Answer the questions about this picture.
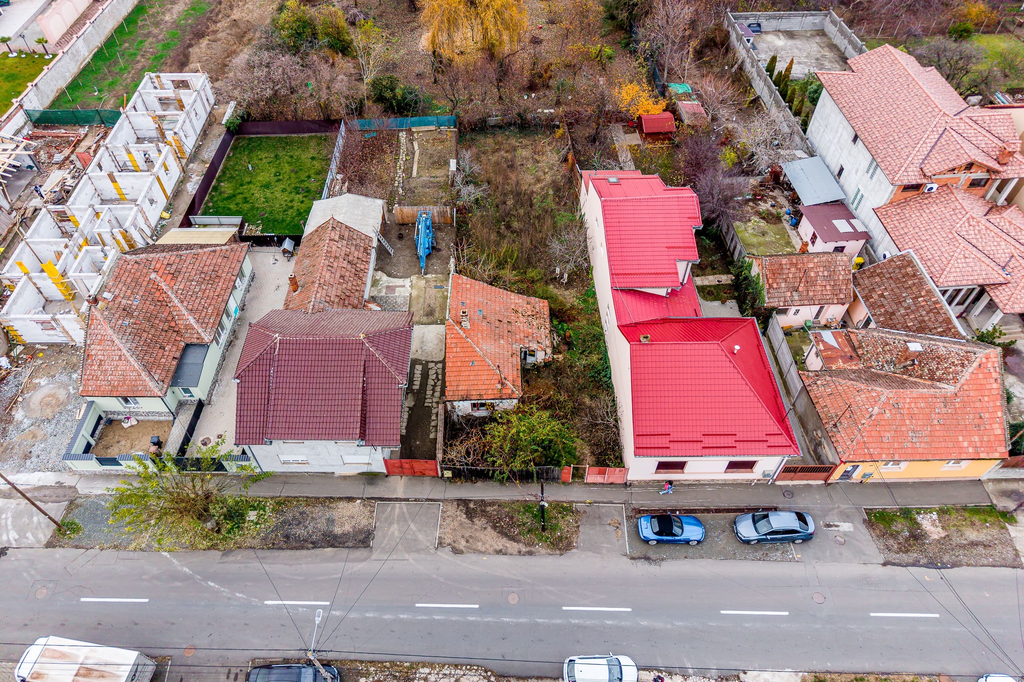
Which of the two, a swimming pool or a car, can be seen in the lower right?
car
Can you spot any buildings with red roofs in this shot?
Yes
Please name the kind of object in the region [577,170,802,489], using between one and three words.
house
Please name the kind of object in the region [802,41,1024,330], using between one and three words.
house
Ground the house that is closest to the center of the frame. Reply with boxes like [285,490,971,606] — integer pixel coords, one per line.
[443,272,552,421]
